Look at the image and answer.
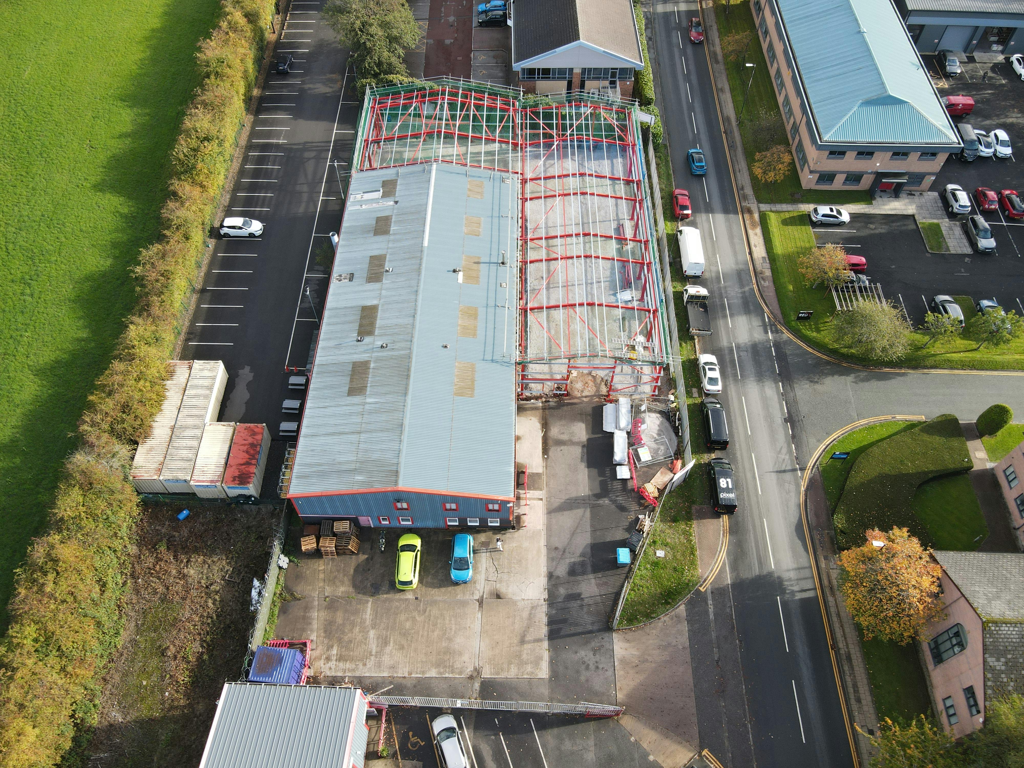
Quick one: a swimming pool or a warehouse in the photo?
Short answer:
warehouse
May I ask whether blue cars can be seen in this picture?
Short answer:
Yes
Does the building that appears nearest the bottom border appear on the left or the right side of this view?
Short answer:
left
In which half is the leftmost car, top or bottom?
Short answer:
top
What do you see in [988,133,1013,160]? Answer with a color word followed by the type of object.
white car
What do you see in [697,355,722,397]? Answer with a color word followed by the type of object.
white car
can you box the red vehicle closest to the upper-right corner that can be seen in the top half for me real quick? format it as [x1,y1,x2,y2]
[942,95,981,117]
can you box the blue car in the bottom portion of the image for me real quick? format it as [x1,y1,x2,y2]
[447,535,475,586]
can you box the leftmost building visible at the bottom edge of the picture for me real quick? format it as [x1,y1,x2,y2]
[206,679,376,768]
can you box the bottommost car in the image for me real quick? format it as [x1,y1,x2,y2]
[437,715,468,768]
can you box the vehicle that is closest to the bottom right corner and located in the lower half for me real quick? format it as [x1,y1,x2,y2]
[706,463,738,518]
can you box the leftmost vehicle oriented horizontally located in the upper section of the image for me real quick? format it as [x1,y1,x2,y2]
[219,217,263,239]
